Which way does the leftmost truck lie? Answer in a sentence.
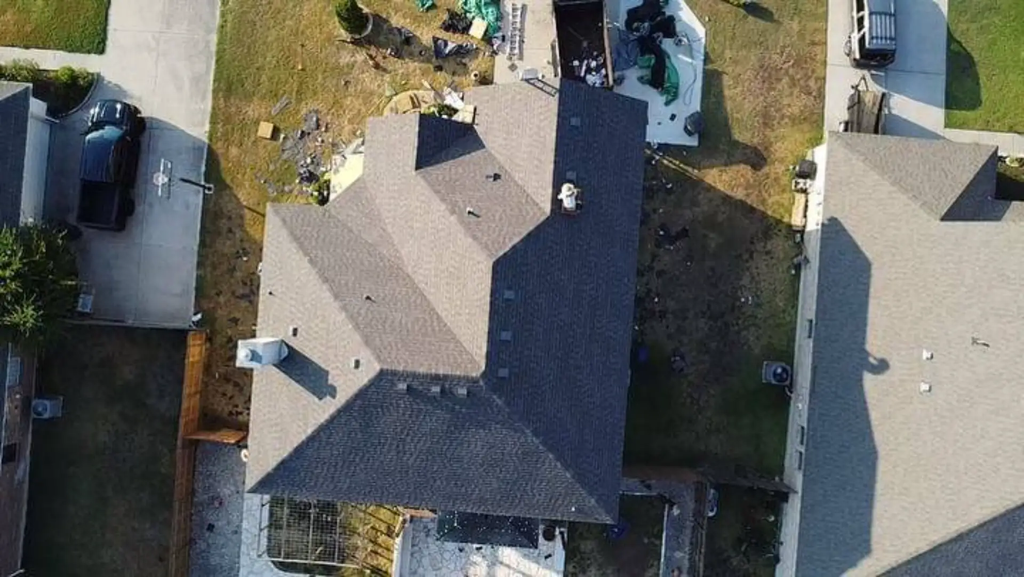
The leftmost truck is laid out from top to bottom.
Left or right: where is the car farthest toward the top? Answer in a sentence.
The car farthest toward the top appears in the right half of the scene.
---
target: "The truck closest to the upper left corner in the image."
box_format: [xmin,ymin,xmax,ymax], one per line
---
[73,96,140,229]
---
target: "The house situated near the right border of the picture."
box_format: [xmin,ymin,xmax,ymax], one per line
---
[779,131,1024,577]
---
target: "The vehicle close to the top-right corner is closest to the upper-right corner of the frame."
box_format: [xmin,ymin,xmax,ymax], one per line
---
[852,0,910,67]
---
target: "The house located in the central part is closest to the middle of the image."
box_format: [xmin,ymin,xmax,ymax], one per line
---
[234,80,648,524]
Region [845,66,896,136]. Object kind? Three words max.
trailer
